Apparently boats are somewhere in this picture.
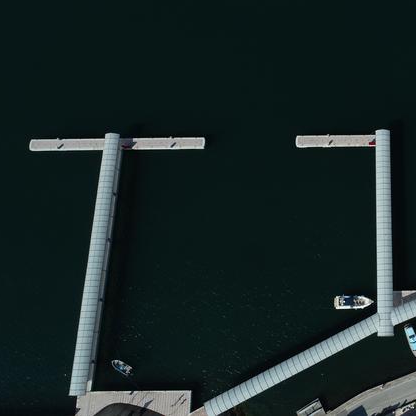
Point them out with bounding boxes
[111,360,132,376]
[404,324,416,355]
[334,294,374,310]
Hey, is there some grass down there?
No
